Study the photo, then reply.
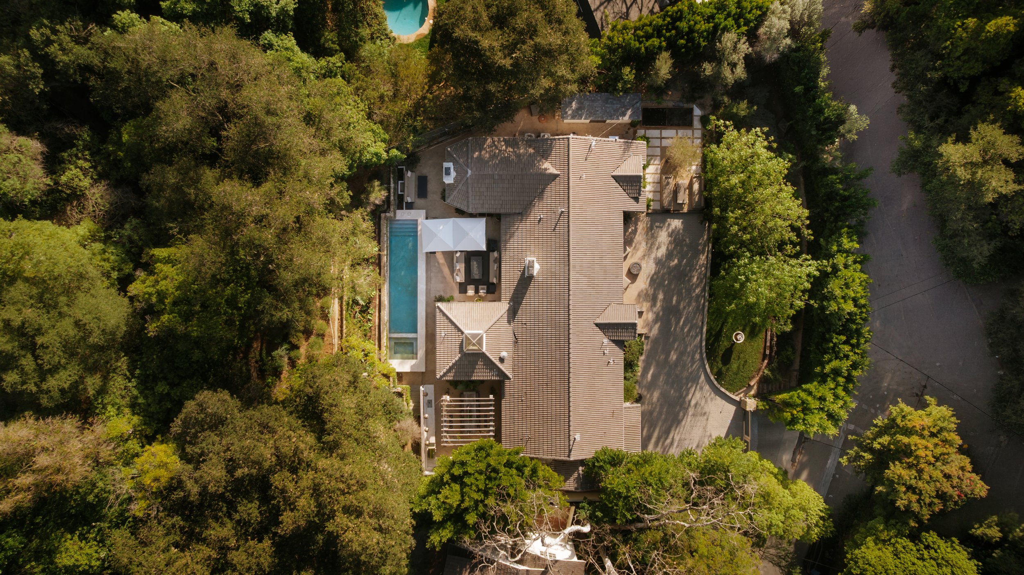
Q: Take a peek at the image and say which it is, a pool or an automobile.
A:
pool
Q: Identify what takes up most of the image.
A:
trees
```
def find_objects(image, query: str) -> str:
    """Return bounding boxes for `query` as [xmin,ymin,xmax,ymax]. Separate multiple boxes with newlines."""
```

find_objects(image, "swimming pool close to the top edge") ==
[376,0,435,43]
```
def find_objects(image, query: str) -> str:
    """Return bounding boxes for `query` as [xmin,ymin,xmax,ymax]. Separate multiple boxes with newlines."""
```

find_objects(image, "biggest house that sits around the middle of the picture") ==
[435,135,648,492]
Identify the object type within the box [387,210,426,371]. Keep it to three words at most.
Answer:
swimming pool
